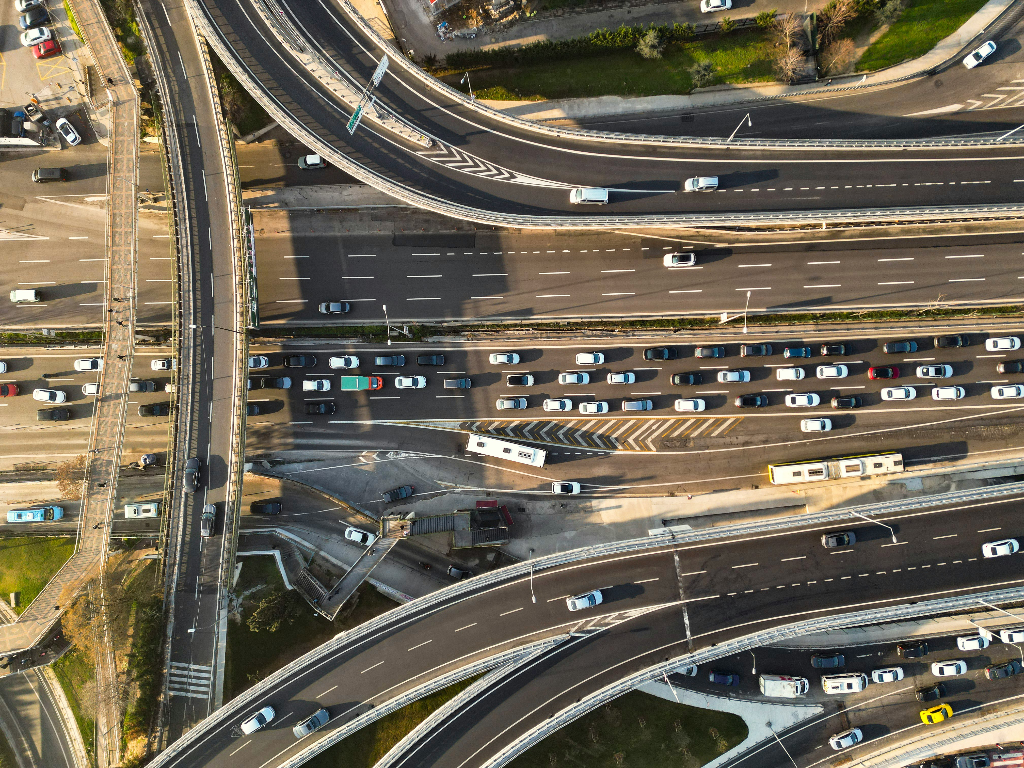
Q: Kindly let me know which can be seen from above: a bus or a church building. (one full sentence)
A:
Looking from above, you can make out a bus.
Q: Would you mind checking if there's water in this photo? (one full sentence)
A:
No, the scene doesn't show any water.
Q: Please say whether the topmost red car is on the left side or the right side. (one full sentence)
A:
You can find the topmost red car on the left side of the picture.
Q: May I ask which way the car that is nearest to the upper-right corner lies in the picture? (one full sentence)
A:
The car that is nearest to the upper-right corner is laid out diagonally.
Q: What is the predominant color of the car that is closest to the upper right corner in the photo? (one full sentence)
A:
The car that is closest to the upper right corner looks white in the image.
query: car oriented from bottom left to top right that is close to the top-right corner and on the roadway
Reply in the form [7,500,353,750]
[963,40,996,69]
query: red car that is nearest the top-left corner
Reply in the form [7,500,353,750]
[34,40,63,60]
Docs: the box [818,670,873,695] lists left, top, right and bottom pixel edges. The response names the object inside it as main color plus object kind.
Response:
white vehicle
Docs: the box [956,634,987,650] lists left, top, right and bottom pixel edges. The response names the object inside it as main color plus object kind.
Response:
white car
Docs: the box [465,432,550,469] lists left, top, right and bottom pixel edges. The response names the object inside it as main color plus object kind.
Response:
white bus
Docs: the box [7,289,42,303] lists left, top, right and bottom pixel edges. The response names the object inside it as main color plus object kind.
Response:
white vehicle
